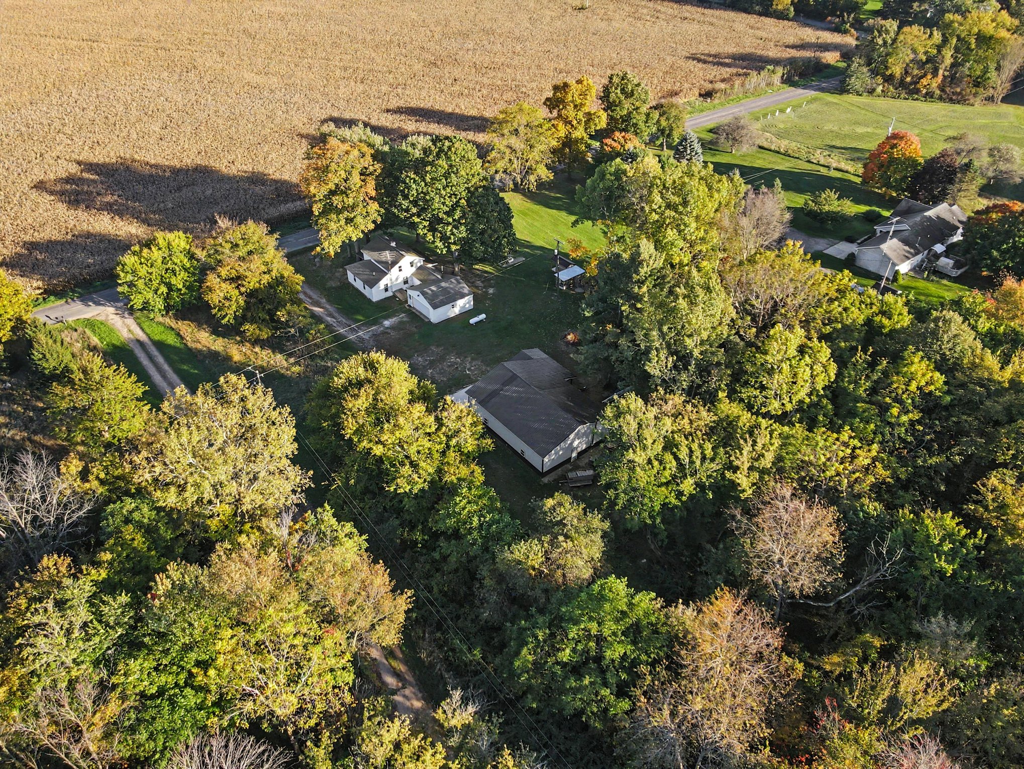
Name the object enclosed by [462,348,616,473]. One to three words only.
barn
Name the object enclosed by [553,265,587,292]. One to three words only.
shed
